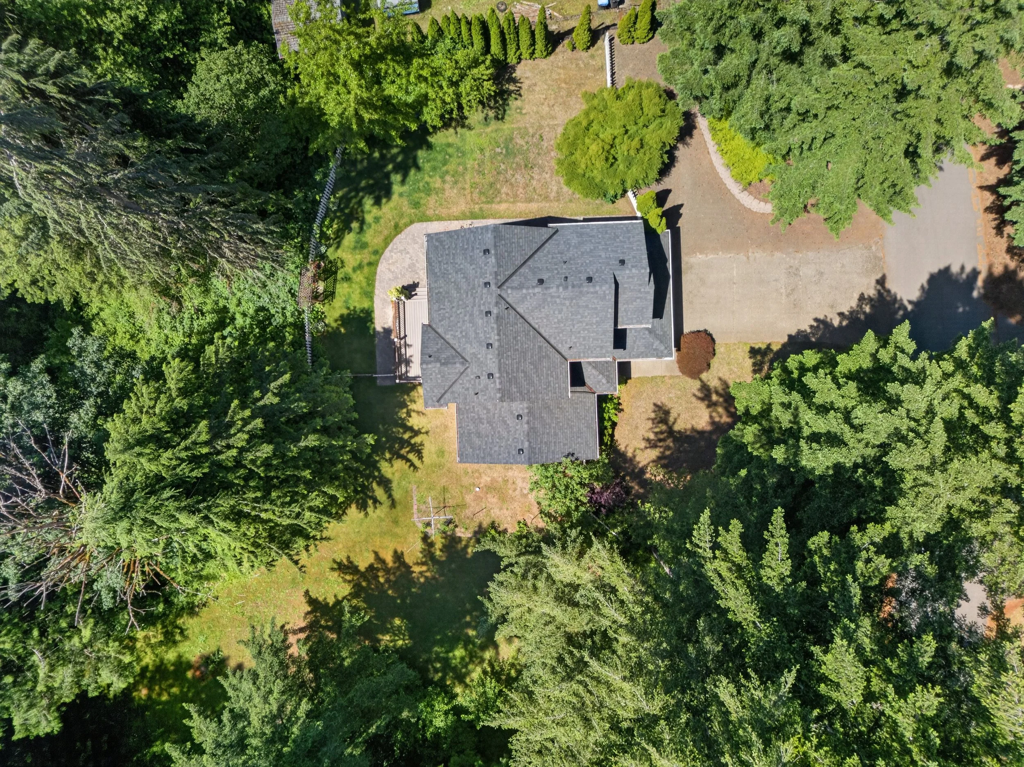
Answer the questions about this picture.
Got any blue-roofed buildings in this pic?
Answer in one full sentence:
No, this view has no blue-roofed building in it.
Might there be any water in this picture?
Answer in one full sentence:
No, the picture contains no water.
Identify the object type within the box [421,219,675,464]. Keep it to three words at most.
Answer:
house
